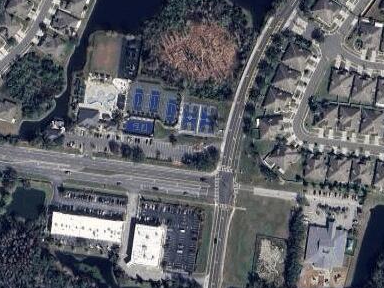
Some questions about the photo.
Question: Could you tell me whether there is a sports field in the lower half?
No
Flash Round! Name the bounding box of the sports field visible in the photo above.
[89,32,121,76]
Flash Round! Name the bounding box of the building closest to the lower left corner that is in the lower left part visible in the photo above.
[51,212,123,242]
